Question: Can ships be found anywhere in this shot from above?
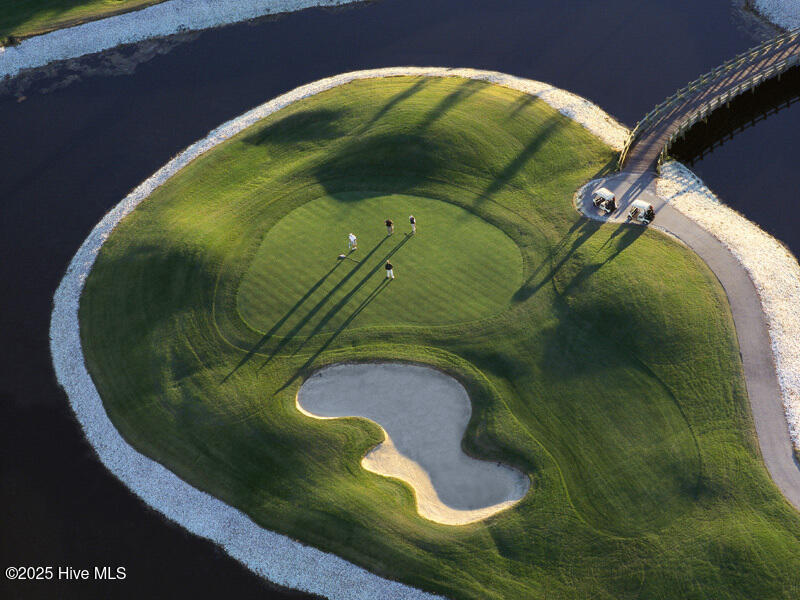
No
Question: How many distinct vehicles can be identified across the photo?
two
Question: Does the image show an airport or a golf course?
golf course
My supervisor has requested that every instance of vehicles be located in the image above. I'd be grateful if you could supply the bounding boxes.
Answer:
[627,200,653,224]
[591,188,617,212]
